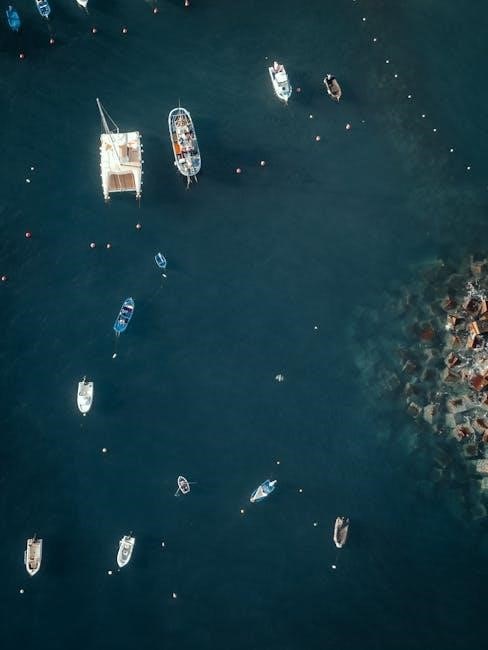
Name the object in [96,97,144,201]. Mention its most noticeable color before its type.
white boat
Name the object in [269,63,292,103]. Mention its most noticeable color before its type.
white boat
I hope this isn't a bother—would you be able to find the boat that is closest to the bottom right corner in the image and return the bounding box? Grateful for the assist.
[334,512,348,548]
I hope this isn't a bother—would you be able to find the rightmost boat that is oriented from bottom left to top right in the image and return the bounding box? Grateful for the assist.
[250,479,276,502]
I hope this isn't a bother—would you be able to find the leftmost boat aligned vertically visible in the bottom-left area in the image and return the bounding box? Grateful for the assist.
[25,530,43,576]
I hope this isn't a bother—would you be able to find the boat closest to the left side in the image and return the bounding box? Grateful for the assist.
[5,4,20,32]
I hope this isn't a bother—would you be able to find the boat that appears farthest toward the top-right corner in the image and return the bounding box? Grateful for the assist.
[324,74,341,102]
